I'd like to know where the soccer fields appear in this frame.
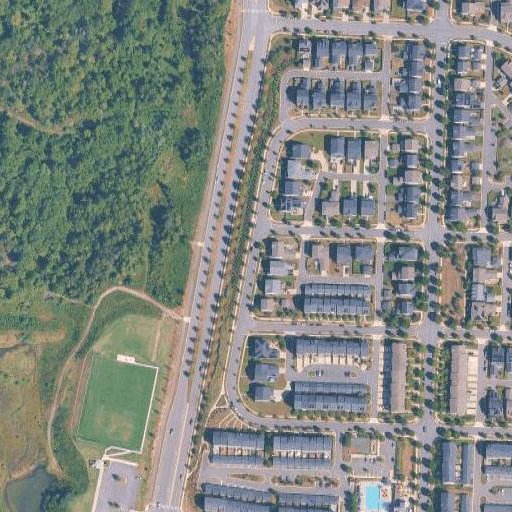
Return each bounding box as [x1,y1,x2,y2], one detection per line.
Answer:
[76,353,159,453]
